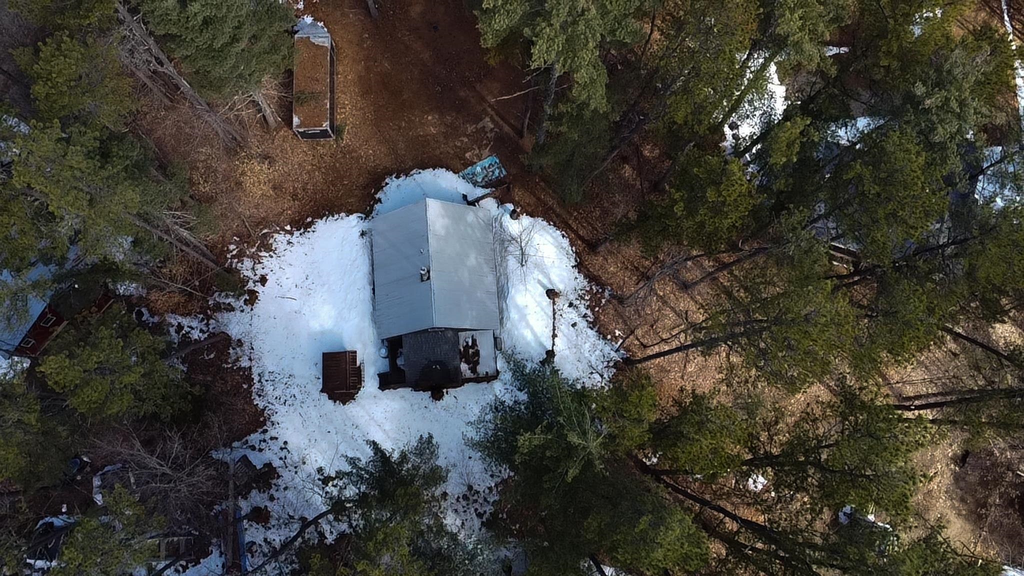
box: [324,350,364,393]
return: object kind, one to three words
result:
shed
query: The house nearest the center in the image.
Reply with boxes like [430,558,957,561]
[372,199,502,394]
